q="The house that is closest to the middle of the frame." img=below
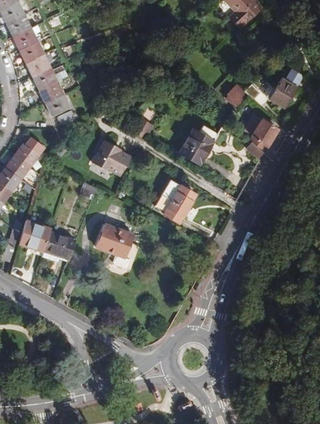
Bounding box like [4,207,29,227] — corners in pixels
[156,180,198,226]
